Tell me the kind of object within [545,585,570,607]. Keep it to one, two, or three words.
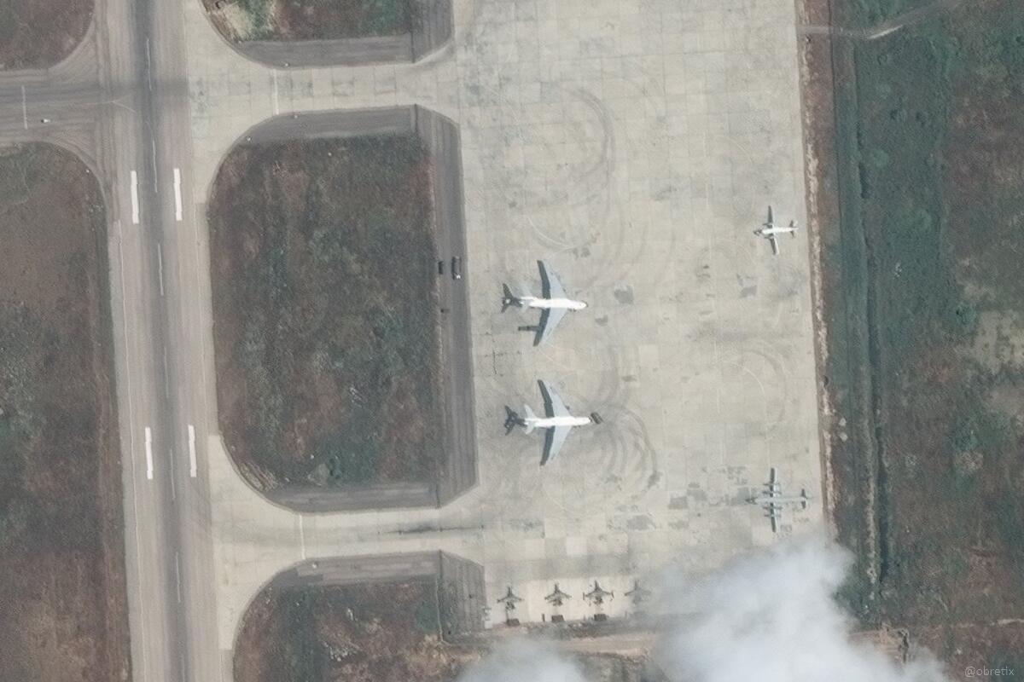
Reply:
airplane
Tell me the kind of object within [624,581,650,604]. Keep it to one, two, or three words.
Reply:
airplane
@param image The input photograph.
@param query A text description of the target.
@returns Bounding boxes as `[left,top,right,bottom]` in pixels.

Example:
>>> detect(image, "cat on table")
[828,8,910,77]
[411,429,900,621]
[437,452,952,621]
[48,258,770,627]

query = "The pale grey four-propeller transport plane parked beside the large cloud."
[751,467,816,532]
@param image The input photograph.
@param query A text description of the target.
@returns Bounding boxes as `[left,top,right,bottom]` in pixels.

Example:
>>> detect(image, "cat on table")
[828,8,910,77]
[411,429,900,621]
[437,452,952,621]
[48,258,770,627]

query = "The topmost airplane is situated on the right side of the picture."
[758,206,803,255]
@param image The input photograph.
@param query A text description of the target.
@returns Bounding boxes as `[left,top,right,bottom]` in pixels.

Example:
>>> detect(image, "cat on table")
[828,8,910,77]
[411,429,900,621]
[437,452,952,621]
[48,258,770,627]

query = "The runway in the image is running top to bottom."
[97,0,233,682]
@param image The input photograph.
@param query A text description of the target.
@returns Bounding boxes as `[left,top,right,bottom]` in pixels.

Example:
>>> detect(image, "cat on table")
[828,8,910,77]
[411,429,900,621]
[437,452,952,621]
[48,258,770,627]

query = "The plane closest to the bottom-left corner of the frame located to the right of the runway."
[498,587,523,610]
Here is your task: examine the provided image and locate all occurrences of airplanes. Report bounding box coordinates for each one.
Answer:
[584,581,609,604]
[624,581,650,604]
[751,467,816,532]
[512,260,587,345]
[545,585,570,607]
[758,206,803,255]
[515,378,590,464]
[498,587,523,610]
